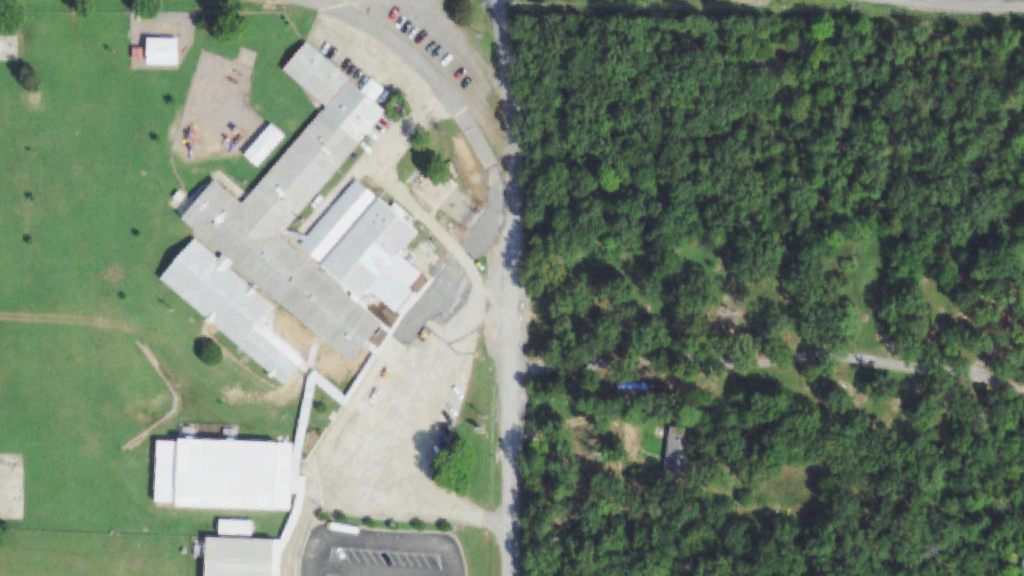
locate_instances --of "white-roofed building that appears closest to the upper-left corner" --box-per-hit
[145,37,178,66]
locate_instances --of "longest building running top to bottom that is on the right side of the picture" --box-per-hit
[665,428,683,473]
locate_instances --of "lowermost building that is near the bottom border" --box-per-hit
[204,537,272,576]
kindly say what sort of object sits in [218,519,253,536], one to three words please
building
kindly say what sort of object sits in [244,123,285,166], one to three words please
shed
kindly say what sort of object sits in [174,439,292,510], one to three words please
building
